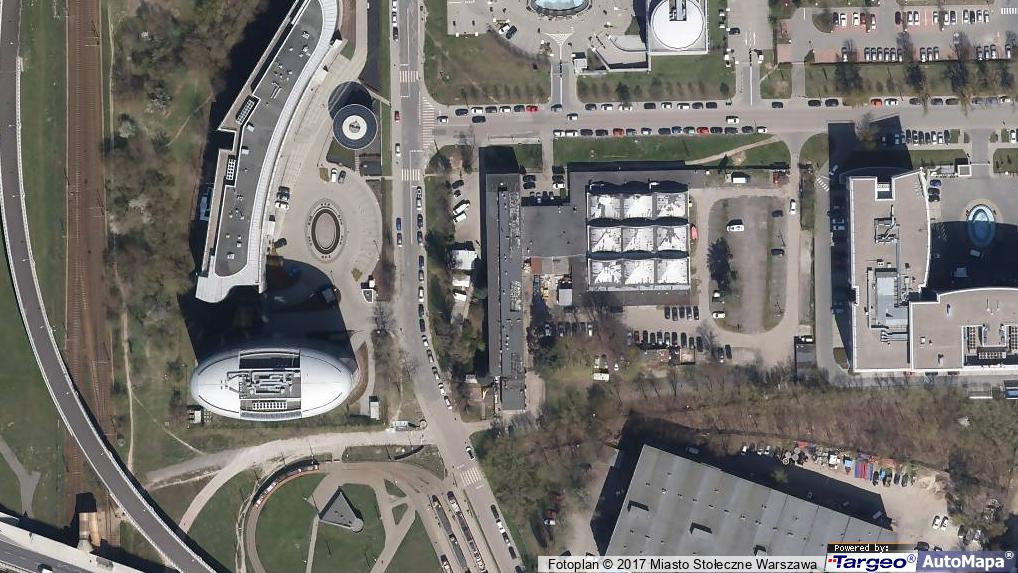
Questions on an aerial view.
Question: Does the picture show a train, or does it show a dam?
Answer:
train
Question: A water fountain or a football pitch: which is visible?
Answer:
water fountain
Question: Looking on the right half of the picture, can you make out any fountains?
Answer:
Yes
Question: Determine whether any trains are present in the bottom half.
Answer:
Yes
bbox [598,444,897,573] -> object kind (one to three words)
warehouse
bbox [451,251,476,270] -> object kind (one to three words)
shed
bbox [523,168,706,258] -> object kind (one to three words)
building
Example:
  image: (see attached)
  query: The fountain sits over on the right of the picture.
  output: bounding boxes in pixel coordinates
[960,196,1002,252]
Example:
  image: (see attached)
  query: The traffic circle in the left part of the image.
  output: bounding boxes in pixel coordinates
[305,201,346,260]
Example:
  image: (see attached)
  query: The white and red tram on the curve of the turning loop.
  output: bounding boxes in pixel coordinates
[255,464,317,504]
